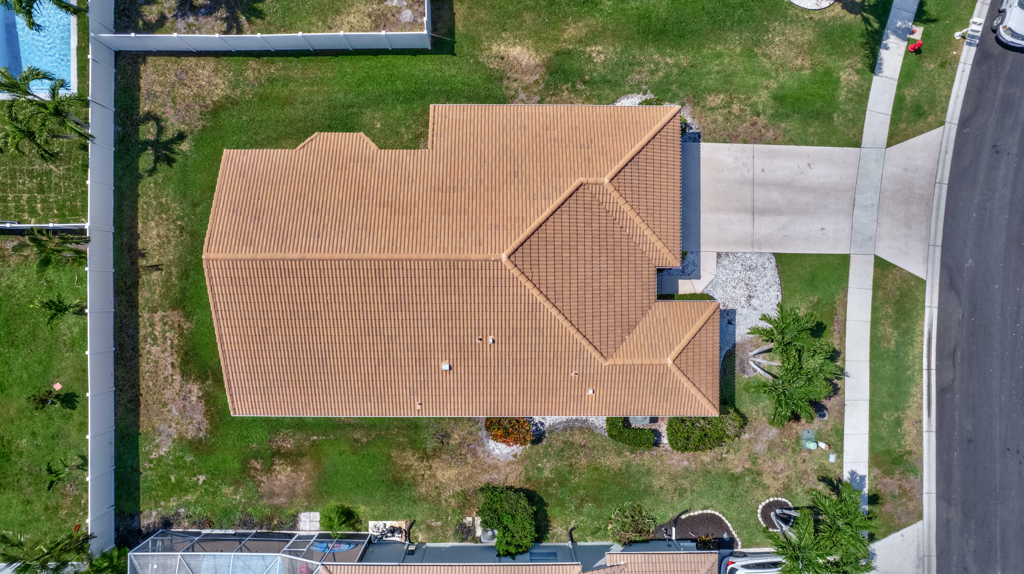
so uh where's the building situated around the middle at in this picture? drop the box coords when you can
[199,102,721,417]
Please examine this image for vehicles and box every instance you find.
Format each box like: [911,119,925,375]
[720,550,810,574]
[990,0,1024,56]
